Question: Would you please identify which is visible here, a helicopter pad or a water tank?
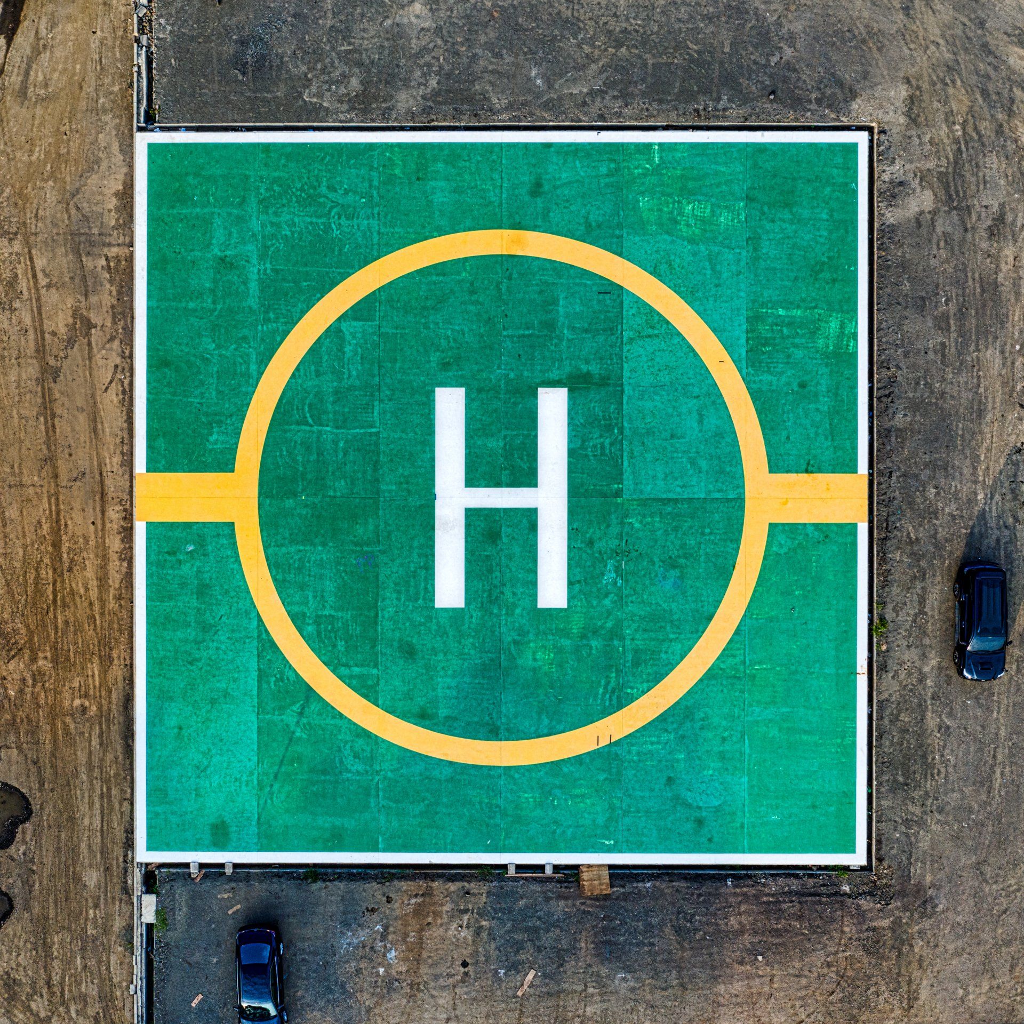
helicopter pad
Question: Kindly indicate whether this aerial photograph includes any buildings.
No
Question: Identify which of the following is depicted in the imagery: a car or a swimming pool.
car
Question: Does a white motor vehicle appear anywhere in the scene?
No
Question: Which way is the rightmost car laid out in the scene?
from top to bottom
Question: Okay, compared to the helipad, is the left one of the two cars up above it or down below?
below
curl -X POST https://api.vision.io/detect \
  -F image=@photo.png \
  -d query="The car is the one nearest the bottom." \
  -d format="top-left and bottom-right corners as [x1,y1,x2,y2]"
[232,923,290,1024]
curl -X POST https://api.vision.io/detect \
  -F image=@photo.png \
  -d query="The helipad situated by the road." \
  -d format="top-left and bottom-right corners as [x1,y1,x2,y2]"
[136,131,868,864]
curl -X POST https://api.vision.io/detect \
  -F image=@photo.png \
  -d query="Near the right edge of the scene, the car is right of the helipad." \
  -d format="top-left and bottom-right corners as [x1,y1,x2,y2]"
[952,559,1015,682]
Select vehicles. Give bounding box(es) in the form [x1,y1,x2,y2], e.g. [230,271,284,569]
[952,559,1015,682]
[232,923,290,1024]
